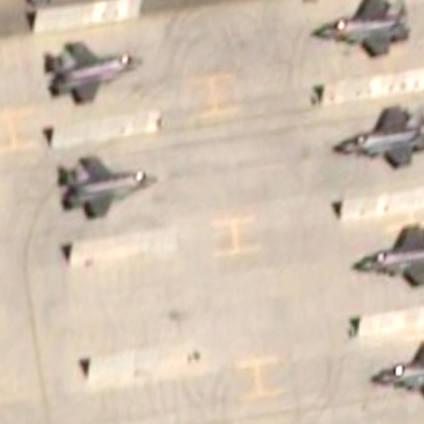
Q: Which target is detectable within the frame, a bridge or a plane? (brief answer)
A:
plane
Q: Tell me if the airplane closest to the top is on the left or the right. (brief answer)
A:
right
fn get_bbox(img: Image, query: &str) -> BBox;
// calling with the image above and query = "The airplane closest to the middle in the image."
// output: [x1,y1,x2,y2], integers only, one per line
[65,154,156,215]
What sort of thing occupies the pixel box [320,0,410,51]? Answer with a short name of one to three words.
airplane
